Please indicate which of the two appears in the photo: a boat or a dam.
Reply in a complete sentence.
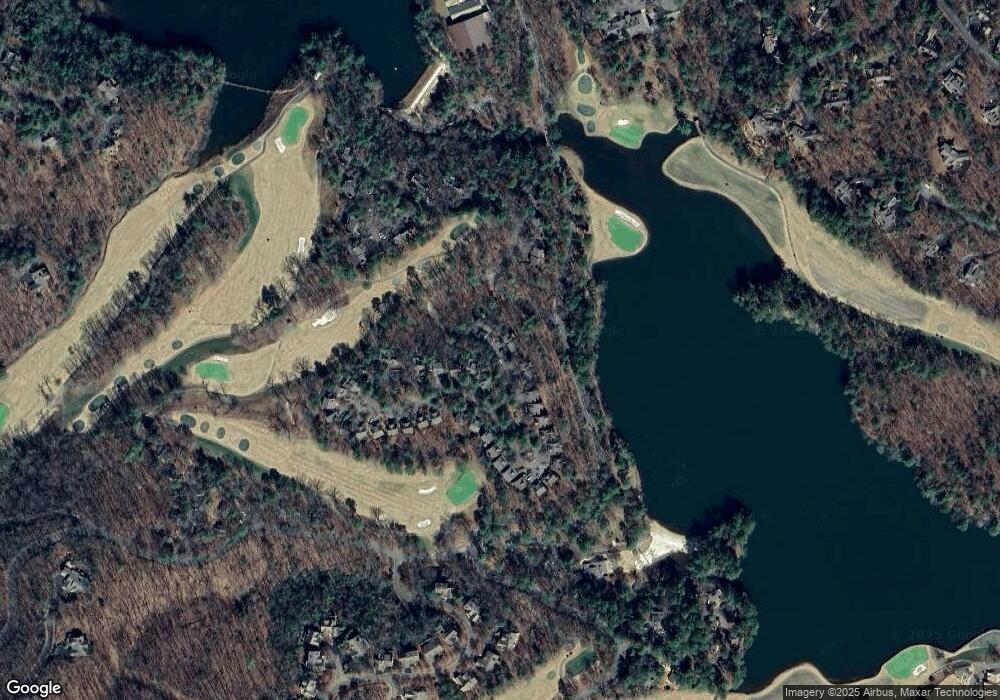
The image shows a dam.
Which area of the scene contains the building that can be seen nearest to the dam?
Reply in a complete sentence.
The building that can be seen nearest to the dam is located in the top region of the scene.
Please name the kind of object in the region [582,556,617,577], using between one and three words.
house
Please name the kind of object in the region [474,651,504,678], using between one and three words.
house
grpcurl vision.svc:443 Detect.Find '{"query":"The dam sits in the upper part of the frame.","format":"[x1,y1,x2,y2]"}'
[400,59,449,113]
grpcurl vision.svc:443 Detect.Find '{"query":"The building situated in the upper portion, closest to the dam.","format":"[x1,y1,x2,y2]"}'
[447,12,496,55]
